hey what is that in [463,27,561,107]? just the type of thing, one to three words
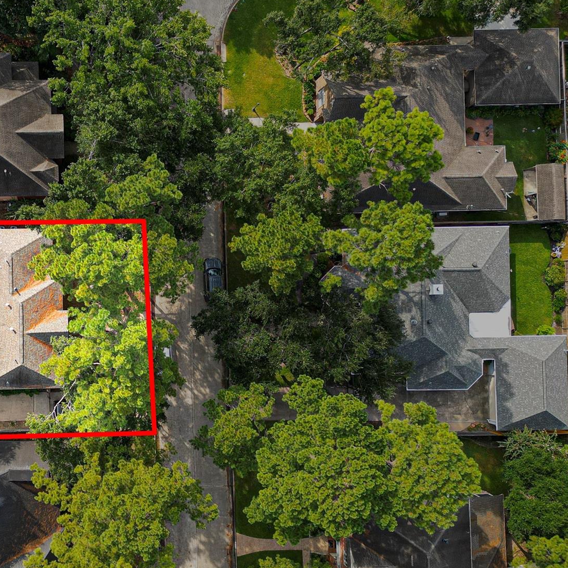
building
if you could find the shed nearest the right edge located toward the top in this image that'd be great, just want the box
[524,162,568,222]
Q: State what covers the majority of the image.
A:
trees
